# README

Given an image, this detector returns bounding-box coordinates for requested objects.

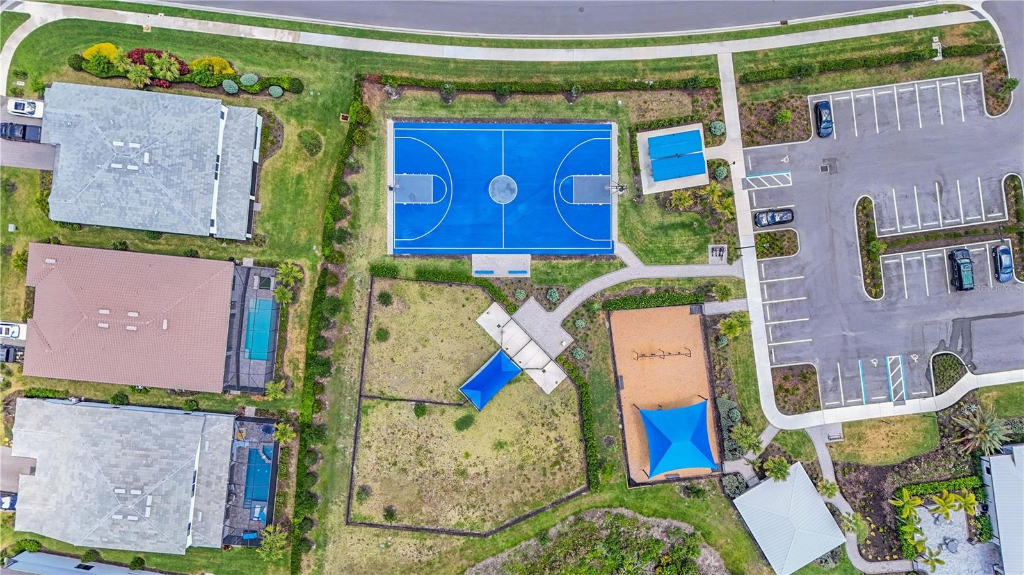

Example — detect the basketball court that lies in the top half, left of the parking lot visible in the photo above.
[393,122,614,254]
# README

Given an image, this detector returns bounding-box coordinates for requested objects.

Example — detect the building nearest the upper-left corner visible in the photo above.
[41,82,262,240]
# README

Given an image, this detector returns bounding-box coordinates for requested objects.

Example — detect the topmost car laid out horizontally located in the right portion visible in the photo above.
[753,208,794,227]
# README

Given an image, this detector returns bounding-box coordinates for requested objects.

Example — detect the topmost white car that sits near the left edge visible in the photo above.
[2,98,44,119]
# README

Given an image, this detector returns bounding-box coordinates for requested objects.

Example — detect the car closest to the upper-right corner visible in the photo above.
[812,99,835,139]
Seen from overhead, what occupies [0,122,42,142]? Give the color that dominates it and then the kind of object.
blue vehicle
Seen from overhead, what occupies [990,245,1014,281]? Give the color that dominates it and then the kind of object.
blue car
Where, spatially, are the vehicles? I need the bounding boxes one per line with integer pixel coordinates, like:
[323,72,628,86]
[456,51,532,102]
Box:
[0,322,27,340]
[812,99,835,139]
[0,492,17,511]
[2,98,44,119]
[0,122,42,142]
[0,346,25,363]
[990,245,1014,281]
[753,208,794,227]
[948,250,975,291]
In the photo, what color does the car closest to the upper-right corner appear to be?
blue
